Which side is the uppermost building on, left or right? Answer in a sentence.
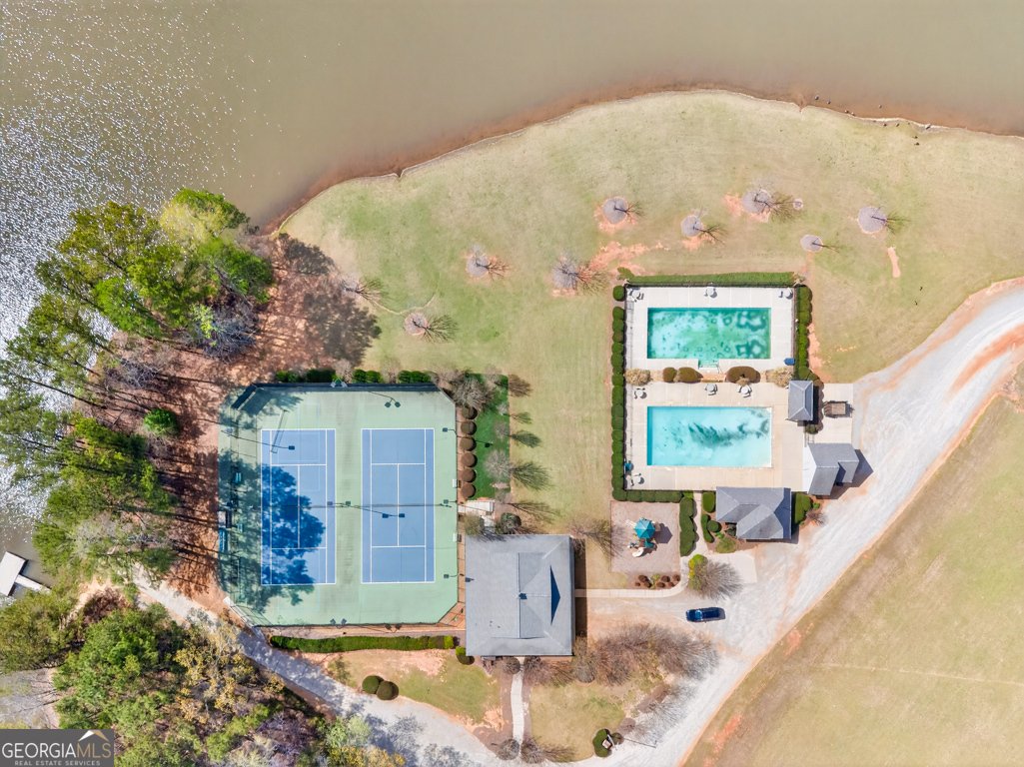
The uppermost building is on the right side of the image.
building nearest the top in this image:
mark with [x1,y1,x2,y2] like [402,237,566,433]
[785,380,814,421]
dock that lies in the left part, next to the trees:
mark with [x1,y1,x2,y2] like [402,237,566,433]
[0,552,56,596]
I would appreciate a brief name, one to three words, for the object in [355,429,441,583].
tennis court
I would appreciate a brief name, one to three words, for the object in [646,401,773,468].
swimming pool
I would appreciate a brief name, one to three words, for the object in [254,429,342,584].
tennis court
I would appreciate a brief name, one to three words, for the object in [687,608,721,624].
car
